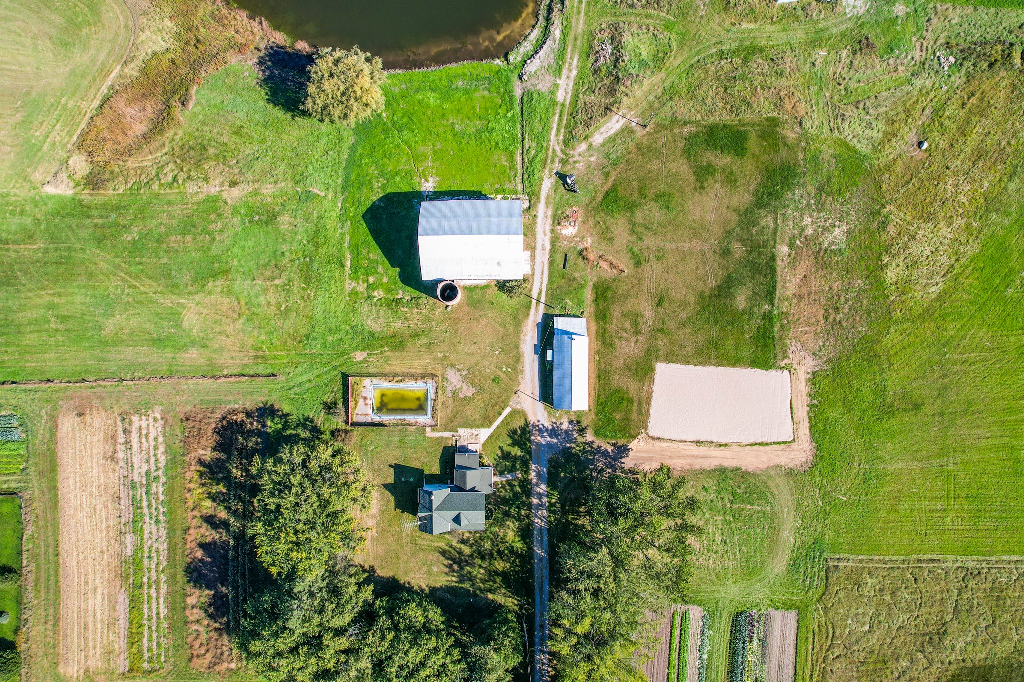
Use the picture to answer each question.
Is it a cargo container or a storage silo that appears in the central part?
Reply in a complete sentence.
The one visible in the central part is a storage silo.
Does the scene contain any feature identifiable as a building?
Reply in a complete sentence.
Yes, a building can be made out from above.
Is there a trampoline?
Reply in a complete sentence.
No, the frame has no trampoline in it.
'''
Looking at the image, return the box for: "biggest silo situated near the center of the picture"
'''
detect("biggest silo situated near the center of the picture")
[436,280,464,306]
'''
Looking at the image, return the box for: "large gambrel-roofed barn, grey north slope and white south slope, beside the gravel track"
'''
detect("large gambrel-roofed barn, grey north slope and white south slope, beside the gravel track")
[418,200,524,281]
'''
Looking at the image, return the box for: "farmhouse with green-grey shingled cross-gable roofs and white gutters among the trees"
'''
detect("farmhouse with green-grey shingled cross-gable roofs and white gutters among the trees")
[417,452,494,535]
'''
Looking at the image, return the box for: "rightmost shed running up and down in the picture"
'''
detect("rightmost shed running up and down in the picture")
[547,318,588,411]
